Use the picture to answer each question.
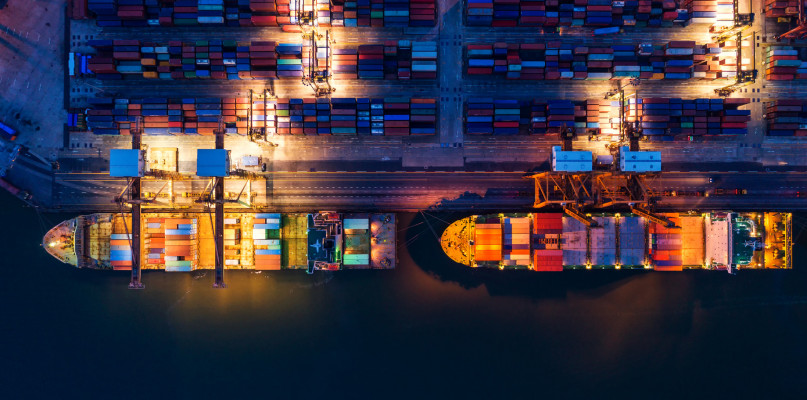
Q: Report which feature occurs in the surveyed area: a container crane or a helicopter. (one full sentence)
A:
Visible in the photo is a container crane.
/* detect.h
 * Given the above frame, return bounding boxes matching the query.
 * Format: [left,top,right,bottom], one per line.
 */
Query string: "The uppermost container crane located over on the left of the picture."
[297,0,325,42]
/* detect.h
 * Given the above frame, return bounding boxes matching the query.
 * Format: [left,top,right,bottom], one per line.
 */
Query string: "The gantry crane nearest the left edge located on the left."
[106,114,210,291]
